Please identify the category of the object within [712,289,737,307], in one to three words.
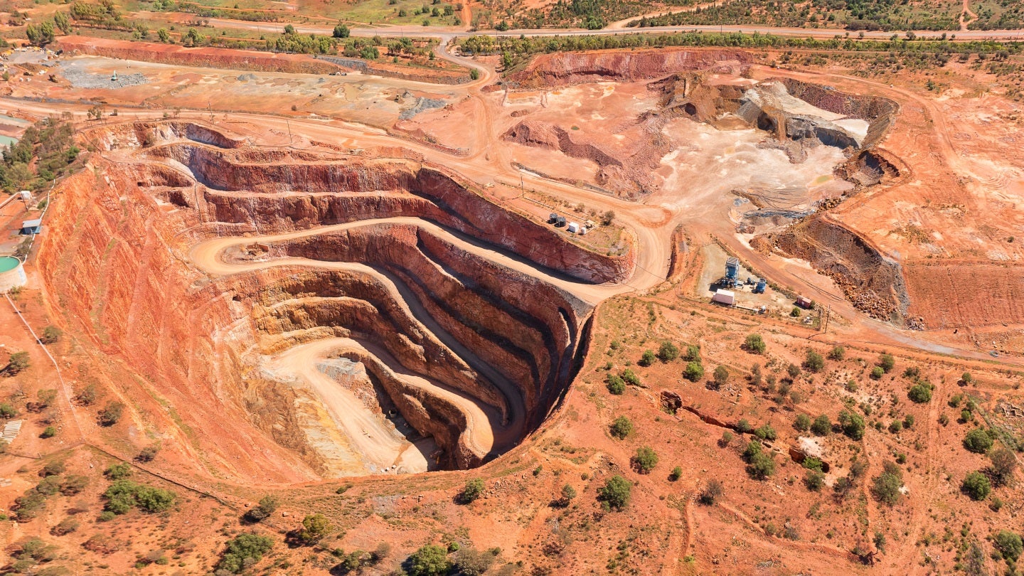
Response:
shed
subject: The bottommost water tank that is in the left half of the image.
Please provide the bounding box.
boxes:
[0,256,27,293]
